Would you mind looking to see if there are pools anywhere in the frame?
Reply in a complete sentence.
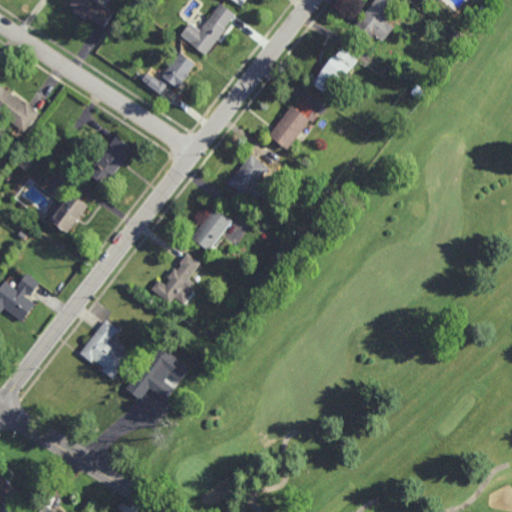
Yes, you can see a pool in this photo.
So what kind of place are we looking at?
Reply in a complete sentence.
This image shows a golf course.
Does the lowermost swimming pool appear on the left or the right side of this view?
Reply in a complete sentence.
The lowermost swimming pool appears in the left half of the scene.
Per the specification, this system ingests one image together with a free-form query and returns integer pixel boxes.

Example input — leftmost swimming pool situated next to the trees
[14,182,52,214]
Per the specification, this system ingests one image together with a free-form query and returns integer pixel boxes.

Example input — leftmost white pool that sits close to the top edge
[180,0,205,28]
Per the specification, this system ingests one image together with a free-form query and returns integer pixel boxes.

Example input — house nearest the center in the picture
[192,209,234,250]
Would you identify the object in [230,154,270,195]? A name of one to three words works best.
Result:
house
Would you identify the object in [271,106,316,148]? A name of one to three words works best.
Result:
house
